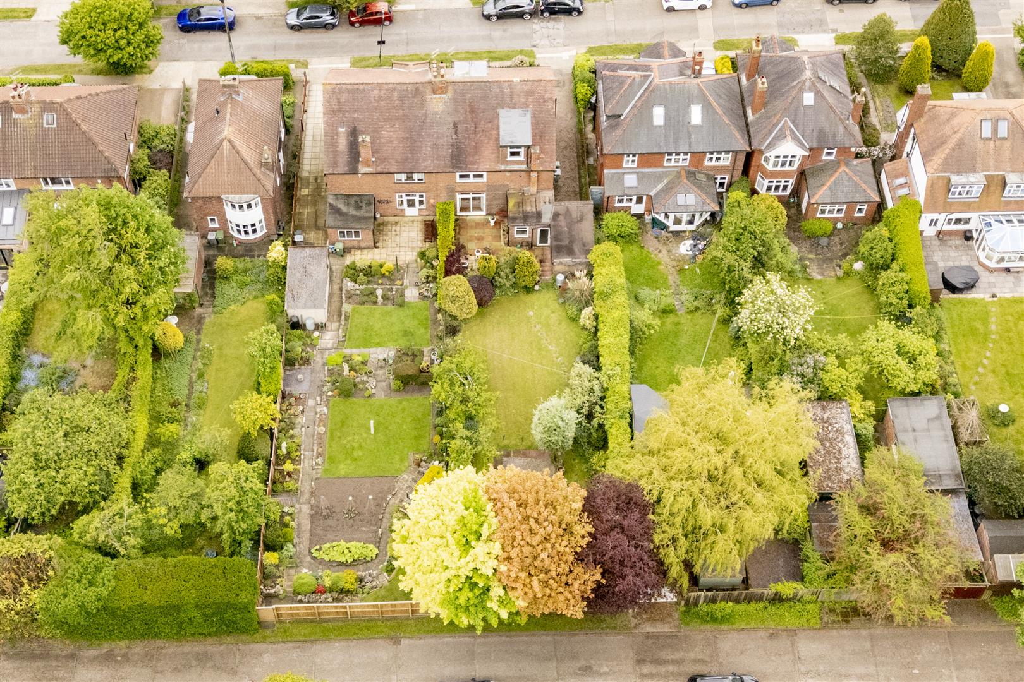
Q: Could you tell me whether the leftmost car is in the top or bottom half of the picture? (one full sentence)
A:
The top half of the photo is where the leftmost car is.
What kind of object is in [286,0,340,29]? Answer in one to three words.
car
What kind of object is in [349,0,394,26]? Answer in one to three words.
car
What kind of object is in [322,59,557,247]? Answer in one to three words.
house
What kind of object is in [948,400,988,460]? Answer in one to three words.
gazebo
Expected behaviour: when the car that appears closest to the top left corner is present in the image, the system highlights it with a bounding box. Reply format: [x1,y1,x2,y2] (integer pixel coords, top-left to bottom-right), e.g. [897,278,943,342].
[177,2,237,31]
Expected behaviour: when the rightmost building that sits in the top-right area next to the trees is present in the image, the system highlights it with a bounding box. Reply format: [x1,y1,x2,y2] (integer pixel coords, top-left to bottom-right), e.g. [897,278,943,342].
[880,84,1024,268]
